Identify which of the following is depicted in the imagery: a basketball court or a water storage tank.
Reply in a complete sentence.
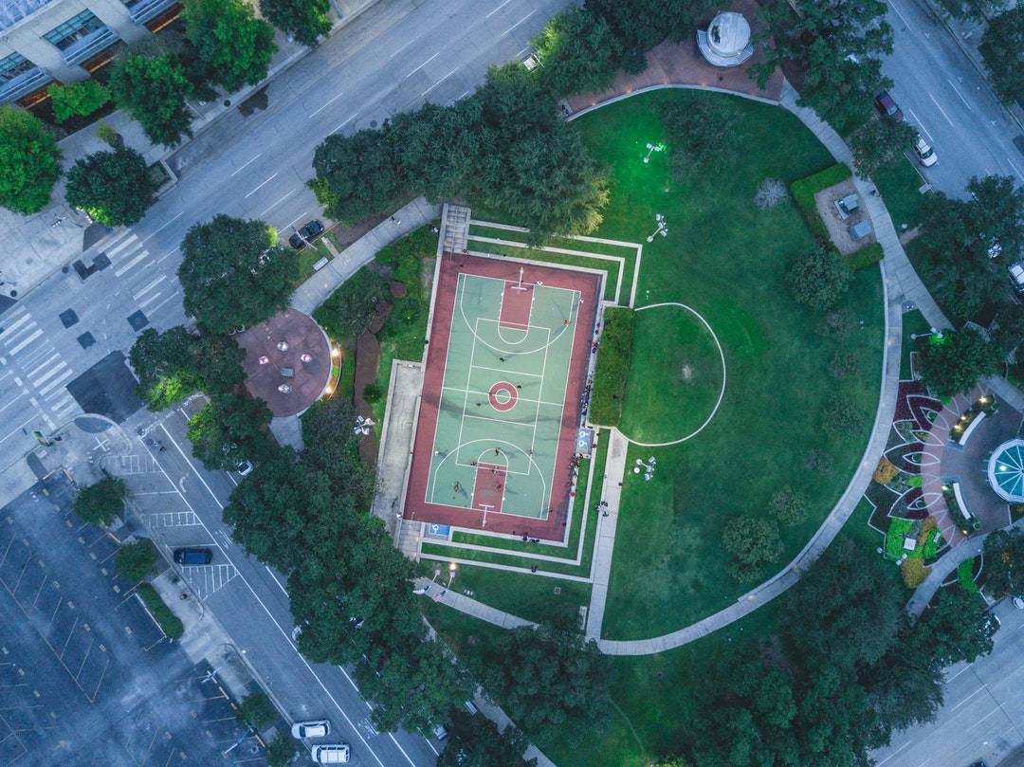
I can see a basketball court in this picture.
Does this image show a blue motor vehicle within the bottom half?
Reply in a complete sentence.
Yes, a blue motor vehicle can be seen within the bottom half.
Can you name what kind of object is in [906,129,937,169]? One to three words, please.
car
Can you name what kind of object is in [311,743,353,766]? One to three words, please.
vehicle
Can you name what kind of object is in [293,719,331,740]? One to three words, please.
car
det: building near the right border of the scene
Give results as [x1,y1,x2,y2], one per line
[974,436,1024,504]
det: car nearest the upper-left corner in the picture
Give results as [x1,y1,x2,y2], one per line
[287,219,327,251]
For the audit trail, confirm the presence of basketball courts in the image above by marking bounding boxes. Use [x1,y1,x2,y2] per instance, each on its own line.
[404,252,599,541]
